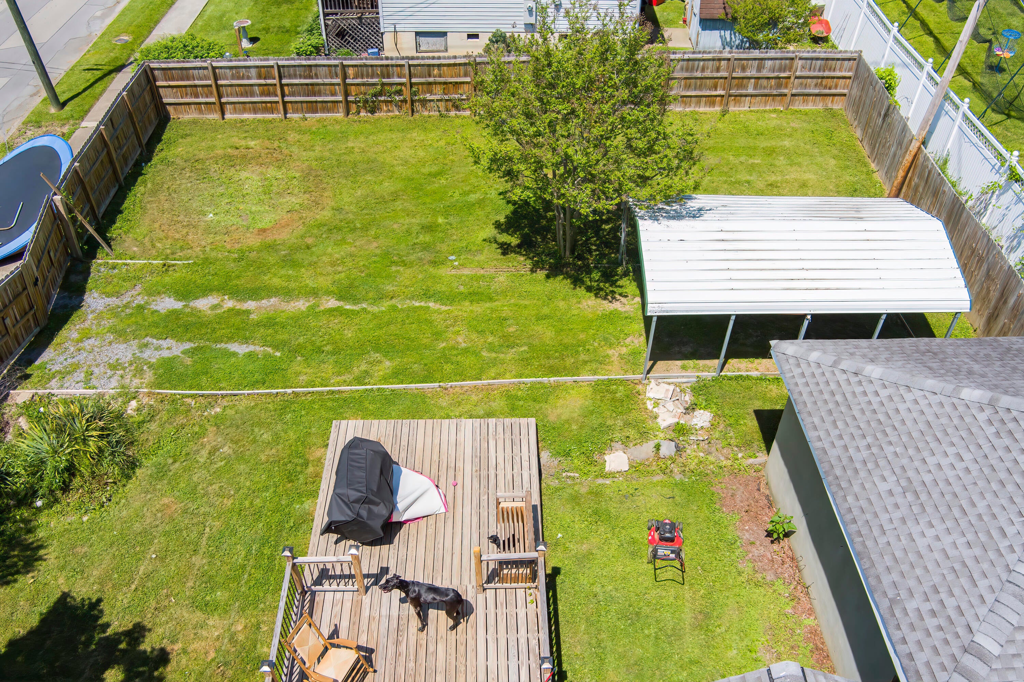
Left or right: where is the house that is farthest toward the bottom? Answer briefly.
right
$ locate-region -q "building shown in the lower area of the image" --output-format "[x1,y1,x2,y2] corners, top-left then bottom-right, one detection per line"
[768,336,1024,682]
